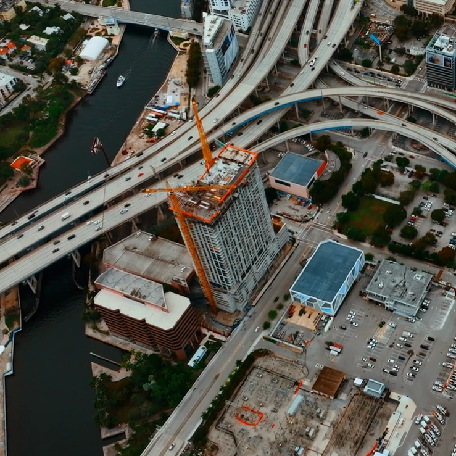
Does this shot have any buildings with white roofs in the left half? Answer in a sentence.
Yes, there is a building with a white roof in the left half.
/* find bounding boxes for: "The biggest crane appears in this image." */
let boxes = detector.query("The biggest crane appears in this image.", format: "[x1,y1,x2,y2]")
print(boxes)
[145,184,236,311]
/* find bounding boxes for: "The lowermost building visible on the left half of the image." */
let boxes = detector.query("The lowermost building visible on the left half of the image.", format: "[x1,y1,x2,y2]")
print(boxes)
[94,286,201,359]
